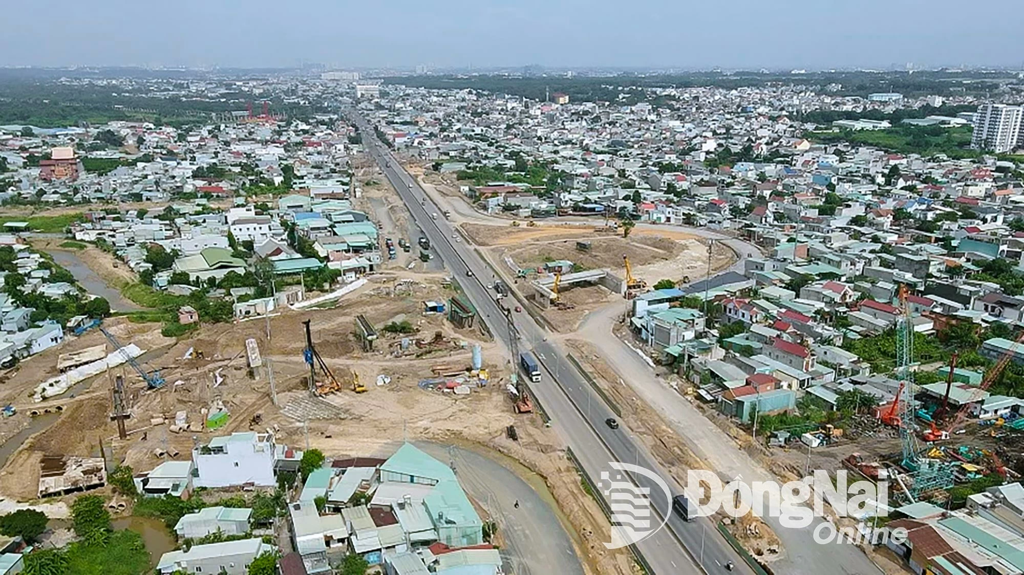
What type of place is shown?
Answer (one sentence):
What you see here is a residential area.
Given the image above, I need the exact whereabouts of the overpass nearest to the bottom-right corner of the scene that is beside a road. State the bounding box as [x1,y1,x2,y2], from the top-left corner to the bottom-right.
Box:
[530,266,629,310]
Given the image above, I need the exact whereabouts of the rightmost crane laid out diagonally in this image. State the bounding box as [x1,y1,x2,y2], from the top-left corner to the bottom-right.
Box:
[924,333,1024,447]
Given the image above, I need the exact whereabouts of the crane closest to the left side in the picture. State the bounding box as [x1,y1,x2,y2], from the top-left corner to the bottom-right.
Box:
[99,326,169,389]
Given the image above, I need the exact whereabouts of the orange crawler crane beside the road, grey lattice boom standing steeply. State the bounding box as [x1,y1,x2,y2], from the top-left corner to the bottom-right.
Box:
[497,299,541,415]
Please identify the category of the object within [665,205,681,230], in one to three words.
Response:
house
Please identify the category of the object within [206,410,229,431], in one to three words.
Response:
shed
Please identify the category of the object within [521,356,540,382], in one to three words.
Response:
vehicle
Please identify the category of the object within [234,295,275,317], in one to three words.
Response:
house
